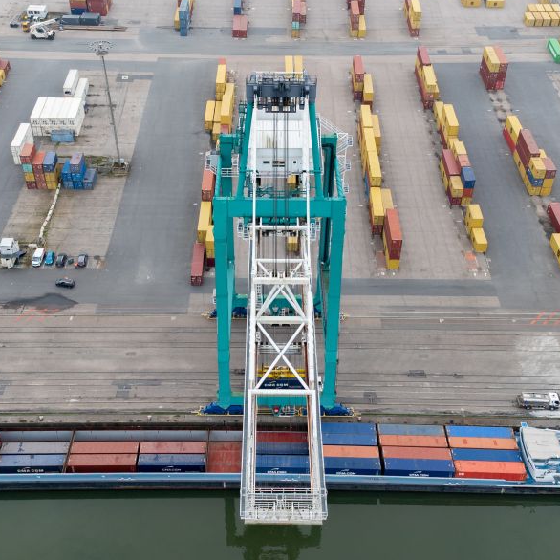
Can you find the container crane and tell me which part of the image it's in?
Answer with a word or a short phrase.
center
